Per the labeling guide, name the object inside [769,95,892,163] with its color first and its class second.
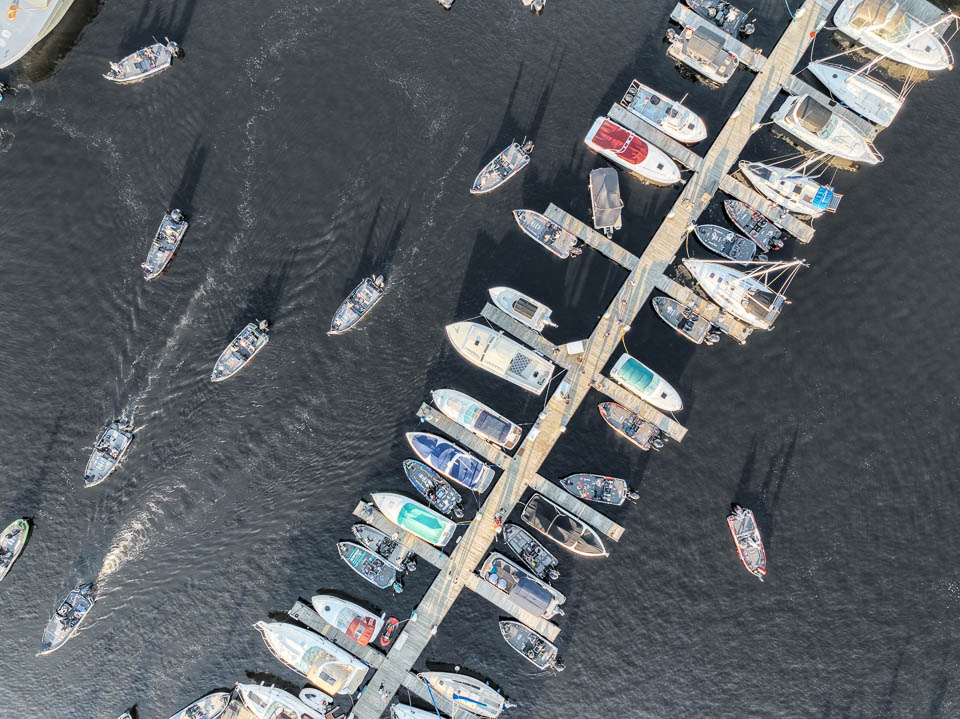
white boat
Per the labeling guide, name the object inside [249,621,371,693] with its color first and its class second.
white boat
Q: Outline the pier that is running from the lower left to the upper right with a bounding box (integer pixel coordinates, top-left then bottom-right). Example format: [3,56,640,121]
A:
[343,0,838,719]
